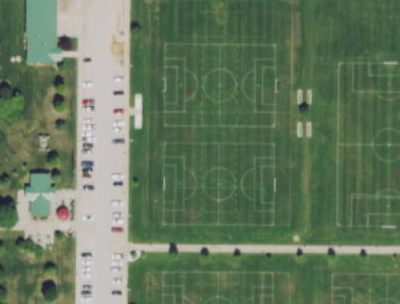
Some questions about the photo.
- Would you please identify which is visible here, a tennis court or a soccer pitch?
soccer pitch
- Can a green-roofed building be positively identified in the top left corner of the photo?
Yes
